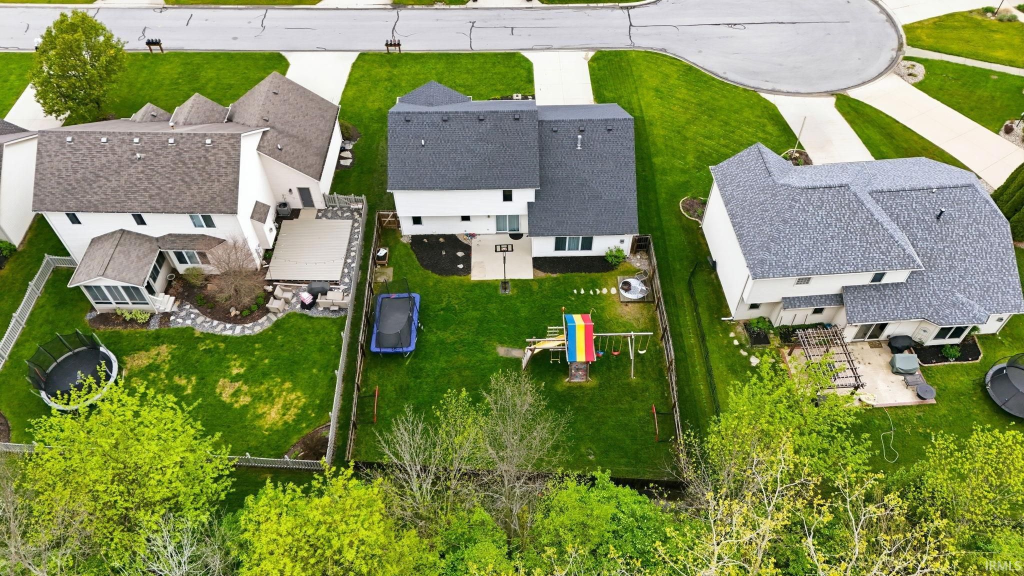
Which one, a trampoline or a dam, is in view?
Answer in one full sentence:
Visible in the photo is a trampoline.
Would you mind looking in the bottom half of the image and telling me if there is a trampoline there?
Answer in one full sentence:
Yes, a trampoline can be seen in the bottom half of the image.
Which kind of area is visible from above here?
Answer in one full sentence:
What you see here is a residential area.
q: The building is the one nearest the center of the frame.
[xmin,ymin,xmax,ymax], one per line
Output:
[388,80,639,262]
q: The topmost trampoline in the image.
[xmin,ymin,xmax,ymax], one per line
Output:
[368,280,422,355]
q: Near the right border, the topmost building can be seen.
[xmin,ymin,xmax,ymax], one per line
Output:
[696,142,1024,346]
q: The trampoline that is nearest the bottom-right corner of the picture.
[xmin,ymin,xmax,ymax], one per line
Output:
[981,350,1024,419]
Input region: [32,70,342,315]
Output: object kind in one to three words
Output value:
house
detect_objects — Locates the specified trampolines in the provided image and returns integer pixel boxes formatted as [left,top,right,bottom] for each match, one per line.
[22,325,121,409]
[368,280,422,355]
[981,350,1024,419]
